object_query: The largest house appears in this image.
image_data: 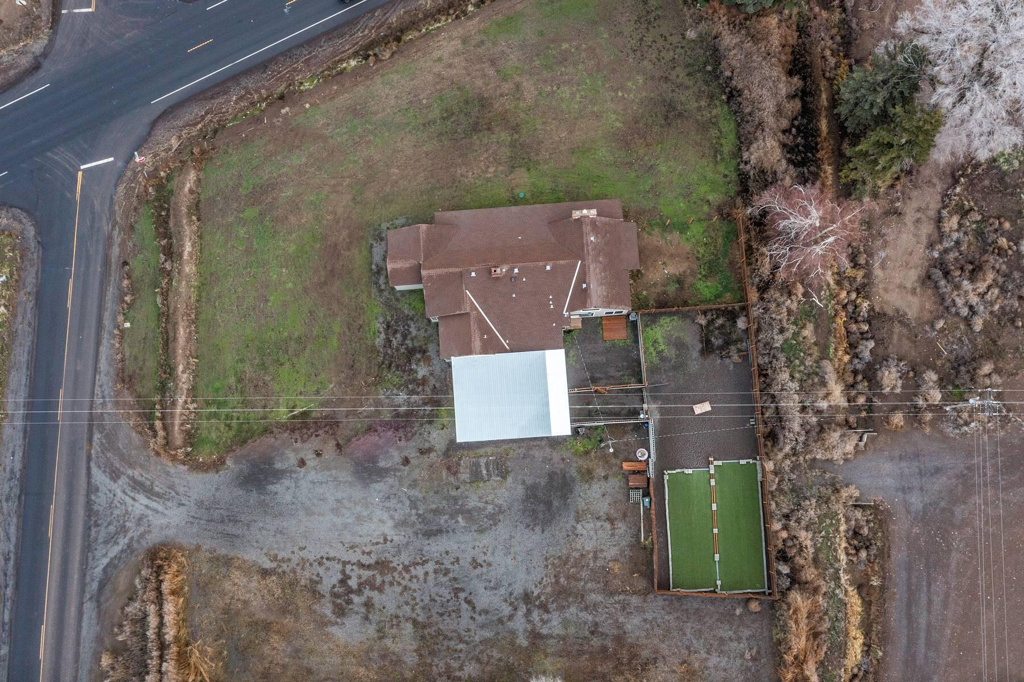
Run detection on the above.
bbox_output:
[387,199,639,361]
